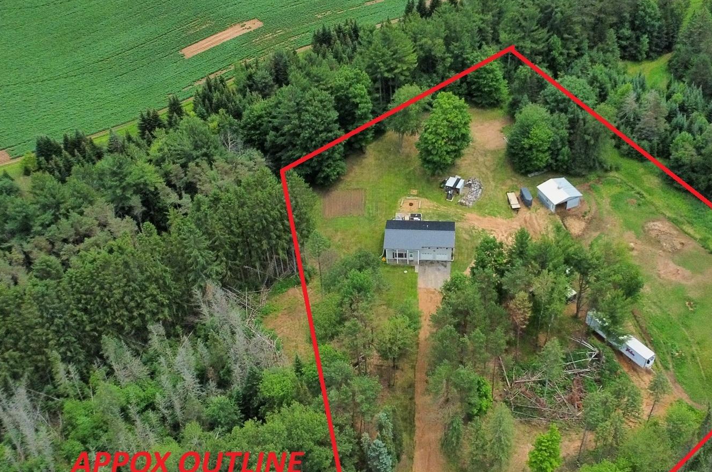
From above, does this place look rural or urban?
rural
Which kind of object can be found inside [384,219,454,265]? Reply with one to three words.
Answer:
house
